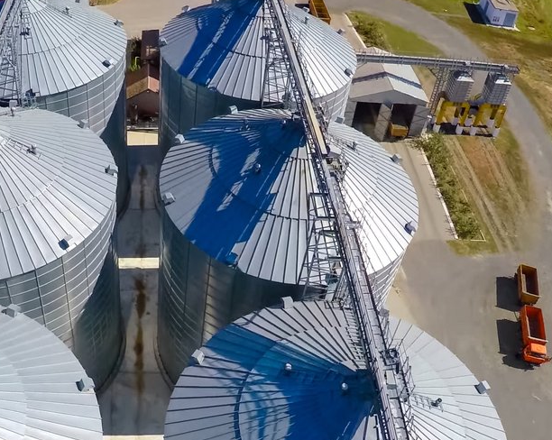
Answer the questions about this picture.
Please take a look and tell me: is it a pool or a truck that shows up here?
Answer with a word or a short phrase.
truck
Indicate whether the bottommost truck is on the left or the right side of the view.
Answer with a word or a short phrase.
right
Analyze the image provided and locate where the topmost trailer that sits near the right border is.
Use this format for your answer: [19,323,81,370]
[509,261,538,308]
